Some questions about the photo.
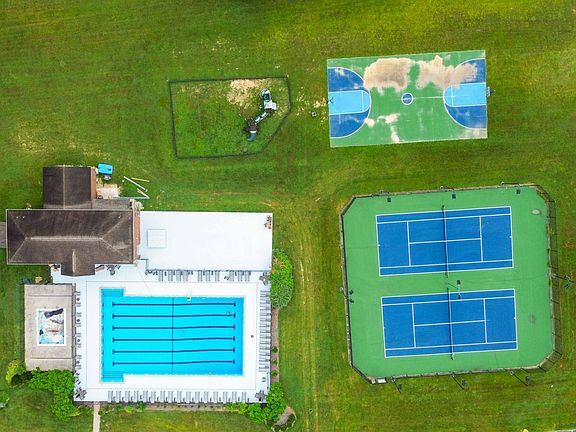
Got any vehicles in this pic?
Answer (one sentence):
No, this view has no vehicle in it.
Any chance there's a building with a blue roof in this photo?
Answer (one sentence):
No, there appears to be no building with a blue roof in this shot.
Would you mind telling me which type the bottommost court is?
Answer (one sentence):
From above, the bottommost court can be identified as a tennis court.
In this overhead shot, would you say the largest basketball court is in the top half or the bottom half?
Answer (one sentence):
The top half of the photo is where the largest basketball court is.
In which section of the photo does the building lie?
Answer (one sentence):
Look in the left portion of the view to spot the building.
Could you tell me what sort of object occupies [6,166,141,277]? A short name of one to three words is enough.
building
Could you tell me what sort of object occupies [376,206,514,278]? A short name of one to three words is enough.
tennis court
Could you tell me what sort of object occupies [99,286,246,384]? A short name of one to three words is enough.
swimming pool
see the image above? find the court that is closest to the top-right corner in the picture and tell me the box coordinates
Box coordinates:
[327,50,487,147]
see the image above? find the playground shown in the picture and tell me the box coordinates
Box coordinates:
[243,91,277,144]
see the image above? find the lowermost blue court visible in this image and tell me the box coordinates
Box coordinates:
[381,288,518,361]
